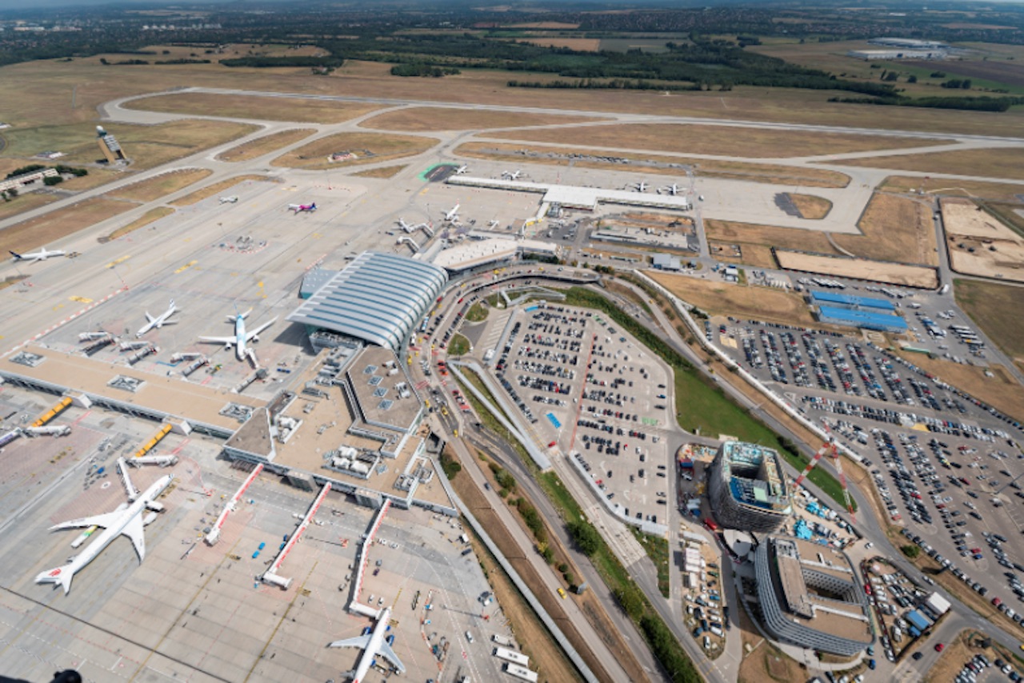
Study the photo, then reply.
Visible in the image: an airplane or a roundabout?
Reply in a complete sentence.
The image shows an airplane.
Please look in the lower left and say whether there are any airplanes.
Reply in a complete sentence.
Yes, in the lower left there is an airplane.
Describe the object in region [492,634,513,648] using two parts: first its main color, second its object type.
white vehicle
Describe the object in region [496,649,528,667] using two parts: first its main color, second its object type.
white vehicle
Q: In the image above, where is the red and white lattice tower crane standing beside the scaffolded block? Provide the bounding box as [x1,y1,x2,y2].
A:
[793,418,857,524]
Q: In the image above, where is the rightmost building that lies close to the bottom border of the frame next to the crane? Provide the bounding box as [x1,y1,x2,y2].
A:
[750,537,877,658]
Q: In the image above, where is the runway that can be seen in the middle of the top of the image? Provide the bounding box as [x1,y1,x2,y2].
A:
[182,87,1024,144]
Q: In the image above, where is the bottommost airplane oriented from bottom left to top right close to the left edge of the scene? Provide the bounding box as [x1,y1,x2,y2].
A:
[39,475,173,589]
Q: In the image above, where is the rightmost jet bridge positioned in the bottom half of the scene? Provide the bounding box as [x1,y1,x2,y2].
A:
[348,500,393,621]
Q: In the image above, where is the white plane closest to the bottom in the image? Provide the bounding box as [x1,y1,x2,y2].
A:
[326,608,402,683]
